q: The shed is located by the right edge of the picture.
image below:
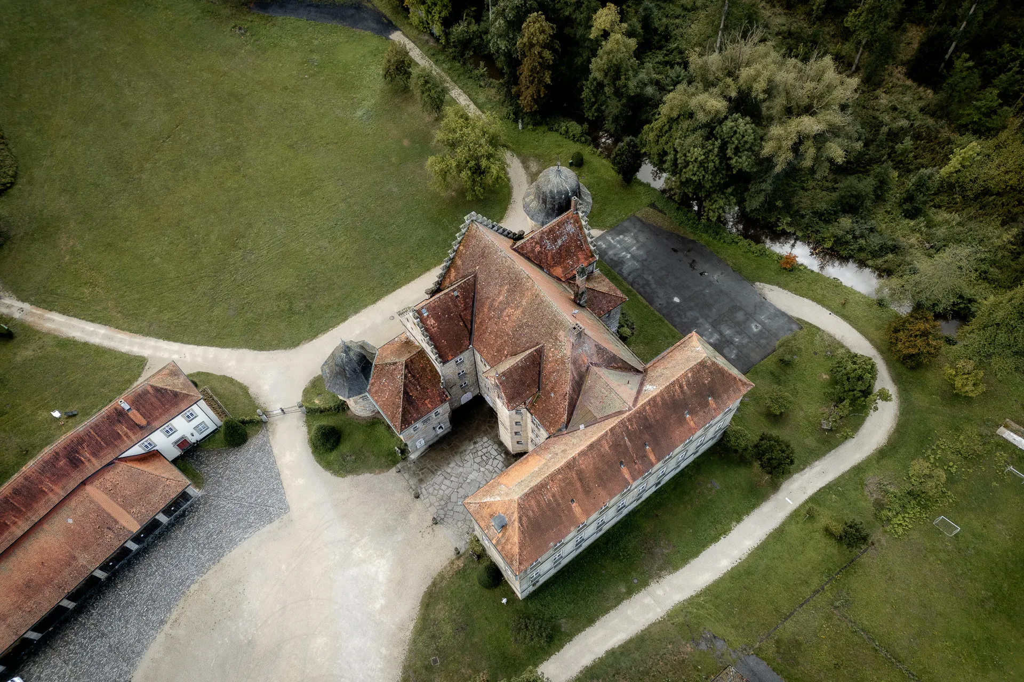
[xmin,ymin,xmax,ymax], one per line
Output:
[995,418,1024,448]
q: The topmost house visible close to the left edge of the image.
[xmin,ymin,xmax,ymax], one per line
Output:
[0,360,221,557]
